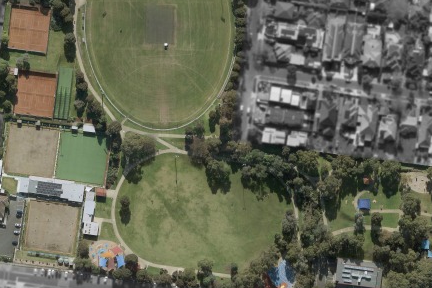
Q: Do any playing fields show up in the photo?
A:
Yes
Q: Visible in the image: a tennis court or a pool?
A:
tennis court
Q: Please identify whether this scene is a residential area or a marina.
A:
residential area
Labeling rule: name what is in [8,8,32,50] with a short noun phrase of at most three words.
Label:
tennis court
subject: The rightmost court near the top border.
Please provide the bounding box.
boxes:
[28,10,52,52]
